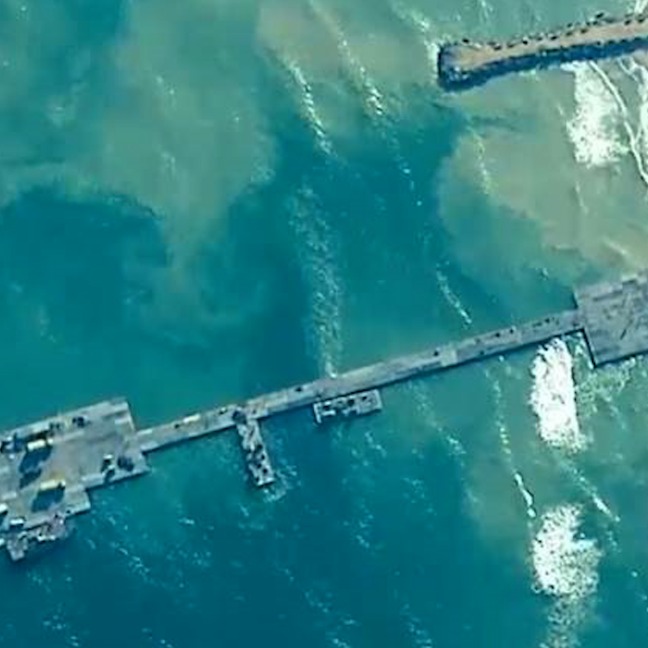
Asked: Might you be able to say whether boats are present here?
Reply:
Yes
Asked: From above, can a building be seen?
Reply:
No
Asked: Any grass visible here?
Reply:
No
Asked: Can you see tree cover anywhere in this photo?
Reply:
No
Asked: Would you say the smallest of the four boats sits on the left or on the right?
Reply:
left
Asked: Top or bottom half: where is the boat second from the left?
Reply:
bottom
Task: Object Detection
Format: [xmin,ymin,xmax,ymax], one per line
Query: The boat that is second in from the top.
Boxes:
[230,410,276,487]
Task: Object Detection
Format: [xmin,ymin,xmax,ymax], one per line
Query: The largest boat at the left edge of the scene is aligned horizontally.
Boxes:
[20,518,71,544]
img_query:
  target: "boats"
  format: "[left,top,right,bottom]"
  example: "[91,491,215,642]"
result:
[314,390,383,423]
[4,533,27,564]
[20,518,71,544]
[230,410,276,487]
